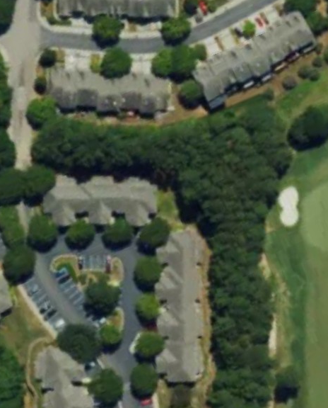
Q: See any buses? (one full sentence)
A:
No, the photo shows no bus.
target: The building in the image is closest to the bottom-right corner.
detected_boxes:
[156,228,203,384]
